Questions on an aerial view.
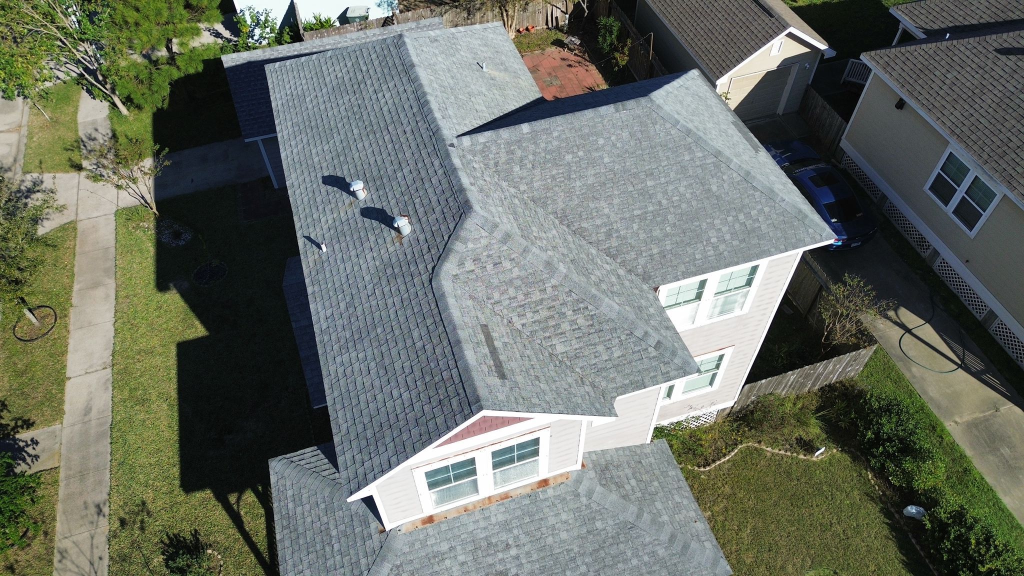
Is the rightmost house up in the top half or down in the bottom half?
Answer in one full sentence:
The rightmost house sits in the top half of the picture.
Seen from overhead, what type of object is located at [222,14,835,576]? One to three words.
house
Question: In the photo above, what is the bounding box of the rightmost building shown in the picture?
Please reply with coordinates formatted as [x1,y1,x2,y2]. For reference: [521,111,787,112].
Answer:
[836,0,1024,368]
